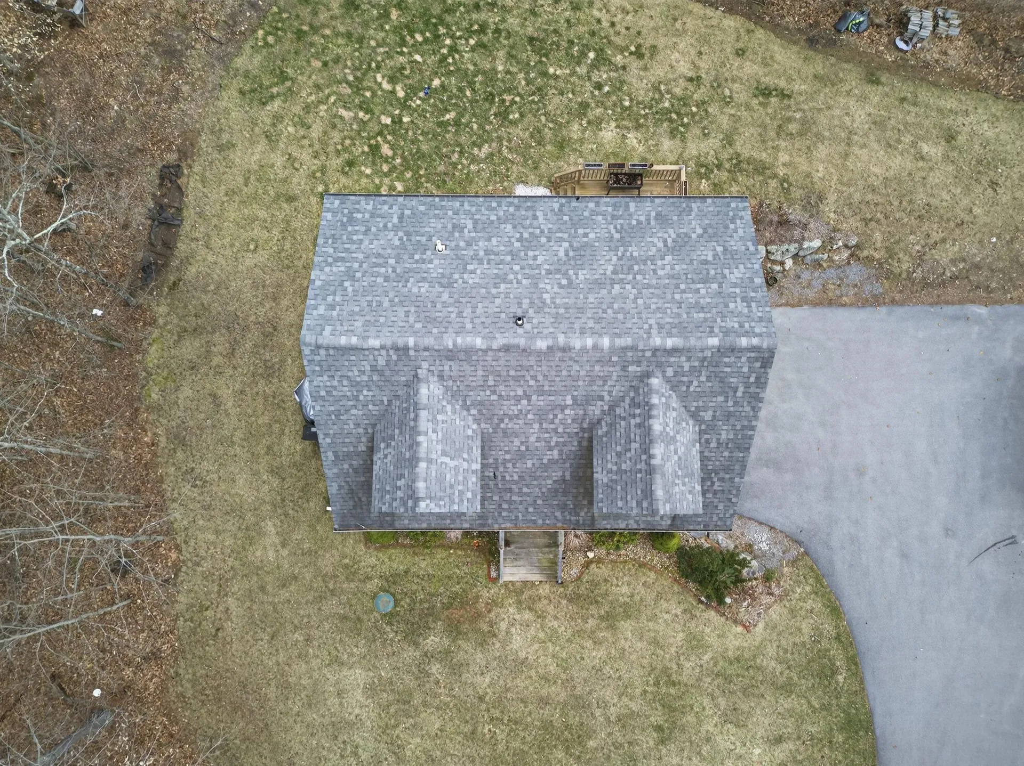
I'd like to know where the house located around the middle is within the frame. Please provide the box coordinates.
[299,191,778,537]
